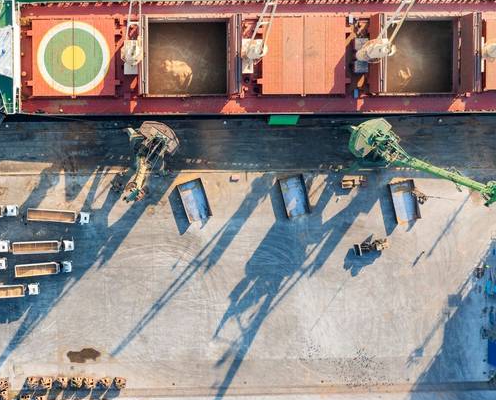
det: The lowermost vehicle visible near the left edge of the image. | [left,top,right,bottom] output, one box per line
[0,281,41,298]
